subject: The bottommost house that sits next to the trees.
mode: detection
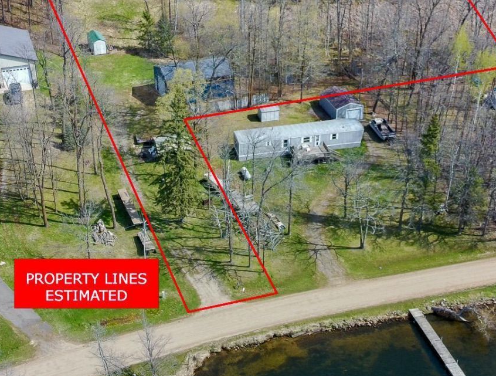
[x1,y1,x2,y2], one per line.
[232,117,364,159]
